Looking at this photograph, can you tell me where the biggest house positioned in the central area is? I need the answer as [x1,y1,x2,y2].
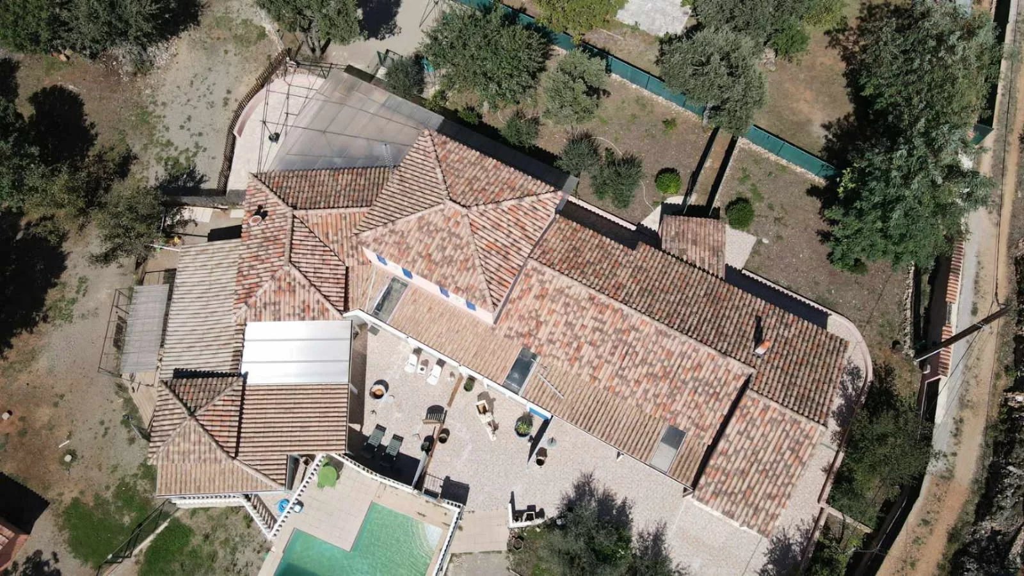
[145,126,850,540]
